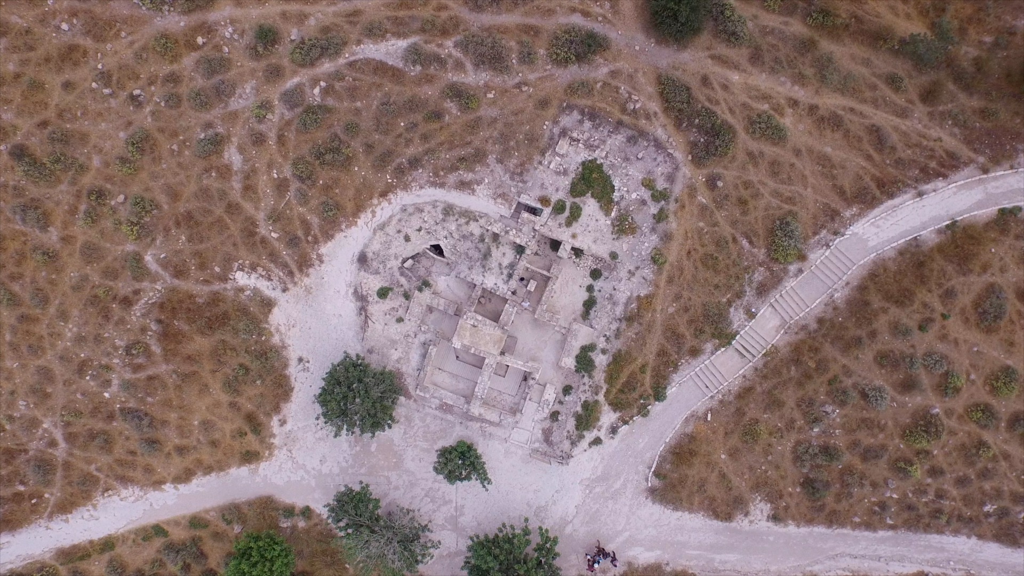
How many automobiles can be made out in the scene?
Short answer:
none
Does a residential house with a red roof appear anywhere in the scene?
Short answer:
No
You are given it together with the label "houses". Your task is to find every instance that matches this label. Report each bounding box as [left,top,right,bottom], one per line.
[452,309,509,362]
